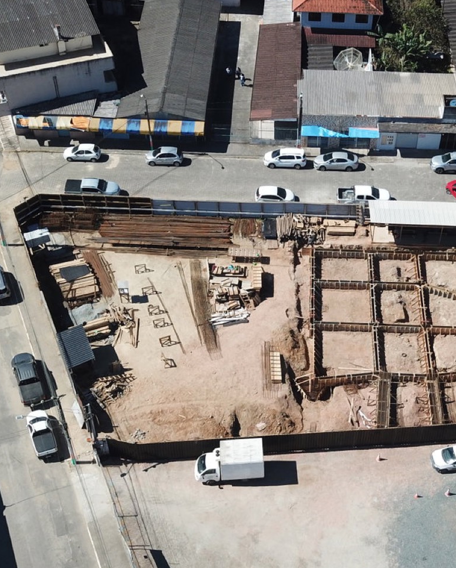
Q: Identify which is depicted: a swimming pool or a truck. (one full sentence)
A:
There is a truck in the scene.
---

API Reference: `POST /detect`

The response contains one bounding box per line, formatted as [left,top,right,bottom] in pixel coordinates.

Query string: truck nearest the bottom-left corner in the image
[25,407,65,470]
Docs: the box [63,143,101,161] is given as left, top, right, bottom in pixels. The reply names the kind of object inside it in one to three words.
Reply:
car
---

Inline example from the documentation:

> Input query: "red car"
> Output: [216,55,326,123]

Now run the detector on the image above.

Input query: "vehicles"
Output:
[25,407,65,470]
[256,184,295,201]
[431,440,456,474]
[335,181,392,204]
[63,143,101,161]
[13,354,49,412]
[445,181,456,197]
[145,145,184,164]
[264,146,307,167]
[63,174,121,197]
[193,439,265,485]
[315,151,360,170]
[0,267,11,304]
[431,151,456,172]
